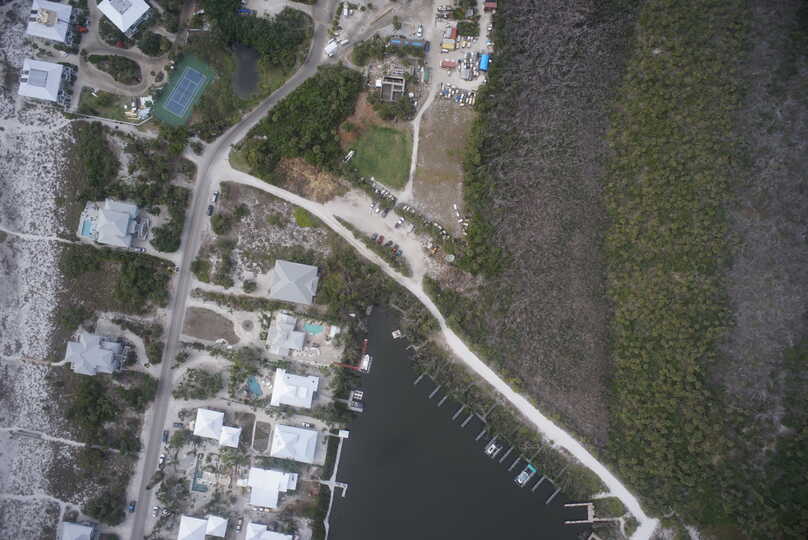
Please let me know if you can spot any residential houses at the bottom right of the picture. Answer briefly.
No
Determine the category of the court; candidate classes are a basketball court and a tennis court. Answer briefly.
tennis court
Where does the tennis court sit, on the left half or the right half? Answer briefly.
left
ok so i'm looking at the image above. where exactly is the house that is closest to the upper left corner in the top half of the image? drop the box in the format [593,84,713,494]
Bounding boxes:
[26,0,85,47]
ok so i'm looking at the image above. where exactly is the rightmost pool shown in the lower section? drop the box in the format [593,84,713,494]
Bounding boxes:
[302,322,326,335]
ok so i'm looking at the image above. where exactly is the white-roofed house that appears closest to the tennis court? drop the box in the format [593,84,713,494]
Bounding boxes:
[98,0,159,39]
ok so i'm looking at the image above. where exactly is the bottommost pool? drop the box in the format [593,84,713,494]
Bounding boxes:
[191,471,208,493]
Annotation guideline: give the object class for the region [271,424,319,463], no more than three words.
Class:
house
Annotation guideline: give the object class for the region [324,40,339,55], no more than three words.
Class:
vehicle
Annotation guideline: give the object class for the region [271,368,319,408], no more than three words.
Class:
house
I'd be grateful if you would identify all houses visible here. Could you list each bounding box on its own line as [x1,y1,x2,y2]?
[194,408,241,448]
[178,515,228,540]
[271,424,319,463]
[97,200,148,247]
[18,58,77,104]
[237,467,297,508]
[266,313,305,356]
[98,0,159,39]
[26,0,85,47]
[70,332,125,375]
[268,260,319,305]
[246,522,293,540]
[60,518,104,540]
[271,368,319,408]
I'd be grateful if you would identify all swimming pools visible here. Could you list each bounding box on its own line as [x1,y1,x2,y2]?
[191,471,208,493]
[81,219,93,236]
[246,374,262,397]
[302,322,326,335]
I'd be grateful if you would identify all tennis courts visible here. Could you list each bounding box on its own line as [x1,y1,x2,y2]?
[153,52,214,125]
